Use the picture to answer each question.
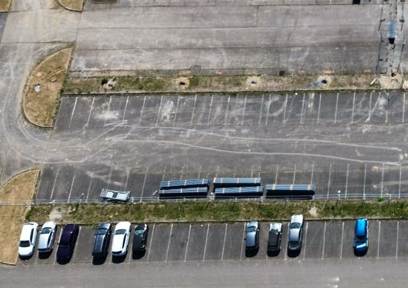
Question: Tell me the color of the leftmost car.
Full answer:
The leftmost car is white.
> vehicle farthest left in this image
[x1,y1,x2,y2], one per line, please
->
[19,225,40,259]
